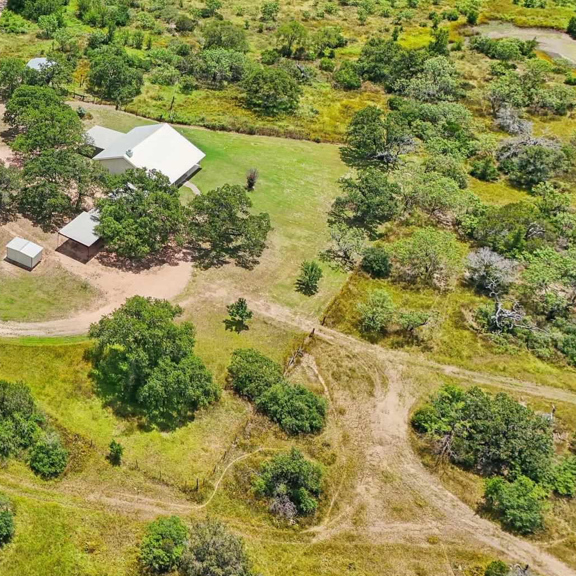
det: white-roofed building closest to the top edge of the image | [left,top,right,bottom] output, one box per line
[74,123,206,195]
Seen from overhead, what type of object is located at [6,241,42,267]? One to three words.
shed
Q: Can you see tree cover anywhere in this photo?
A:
Yes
